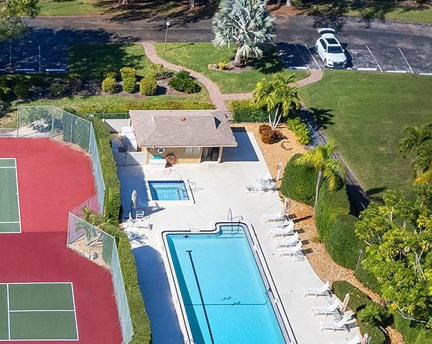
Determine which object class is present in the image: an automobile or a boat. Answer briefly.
automobile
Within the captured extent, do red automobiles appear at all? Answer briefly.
No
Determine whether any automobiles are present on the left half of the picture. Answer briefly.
No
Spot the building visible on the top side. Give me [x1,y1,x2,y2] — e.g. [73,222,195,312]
[129,110,237,163]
